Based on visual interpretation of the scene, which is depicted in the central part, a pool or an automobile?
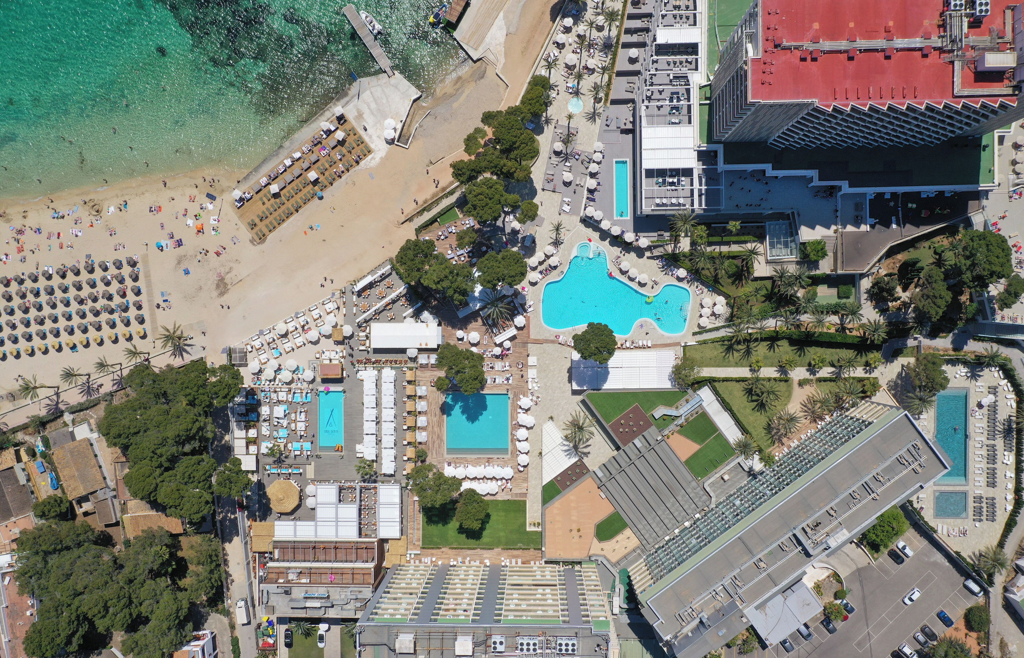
pool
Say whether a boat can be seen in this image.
Yes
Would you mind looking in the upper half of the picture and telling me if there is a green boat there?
No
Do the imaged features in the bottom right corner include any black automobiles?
Yes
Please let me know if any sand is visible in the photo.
Yes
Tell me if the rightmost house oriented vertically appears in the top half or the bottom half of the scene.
bottom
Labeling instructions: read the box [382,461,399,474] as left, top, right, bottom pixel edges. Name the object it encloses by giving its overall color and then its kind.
white umbrella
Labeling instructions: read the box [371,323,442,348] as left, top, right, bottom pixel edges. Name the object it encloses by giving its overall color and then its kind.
white tent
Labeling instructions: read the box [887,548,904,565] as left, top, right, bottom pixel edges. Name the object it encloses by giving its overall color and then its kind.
black car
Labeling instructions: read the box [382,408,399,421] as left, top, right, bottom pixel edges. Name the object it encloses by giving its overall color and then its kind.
white umbrella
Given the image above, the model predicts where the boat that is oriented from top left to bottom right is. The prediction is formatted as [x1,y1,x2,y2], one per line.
[362,10,385,38]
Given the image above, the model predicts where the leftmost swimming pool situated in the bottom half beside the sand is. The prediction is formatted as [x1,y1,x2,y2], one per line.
[317,390,345,455]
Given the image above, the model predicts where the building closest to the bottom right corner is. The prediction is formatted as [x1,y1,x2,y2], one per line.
[989,552,1024,625]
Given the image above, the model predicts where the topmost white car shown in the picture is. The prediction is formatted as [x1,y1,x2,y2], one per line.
[896,540,914,558]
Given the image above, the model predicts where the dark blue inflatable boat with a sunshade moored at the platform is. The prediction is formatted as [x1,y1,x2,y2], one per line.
[429,3,449,30]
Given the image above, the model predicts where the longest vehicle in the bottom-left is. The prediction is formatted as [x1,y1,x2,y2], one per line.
[235,598,249,629]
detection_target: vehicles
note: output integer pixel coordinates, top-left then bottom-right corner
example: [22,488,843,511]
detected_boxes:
[796,625,814,642]
[912,631,929,648]
[888,646,904,658]
[235,598,249,629]
[839,600,856,615]
[780,637,795,654]
[898,642,917,658]
[936,610,954,628]
[896,540,914,558]
[820,617,838,635]
[283,629,293,648]
[837,612,851,625]
[919,624,936,641]
[964,578,983,598]
[317,630,326,648]
[887,548,904,565]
